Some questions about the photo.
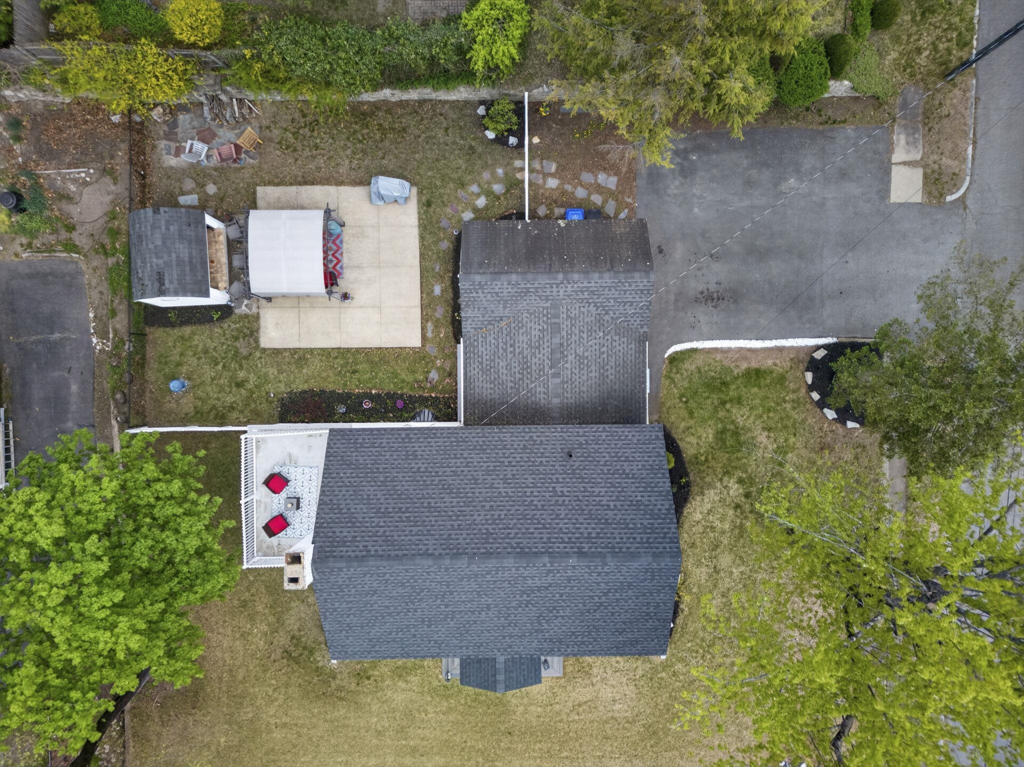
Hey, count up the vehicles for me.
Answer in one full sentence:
There are no vehicles in this view.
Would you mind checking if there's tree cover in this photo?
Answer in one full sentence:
Yes, there's tree cover in this view.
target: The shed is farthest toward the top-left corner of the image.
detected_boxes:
[130,207,231,306]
